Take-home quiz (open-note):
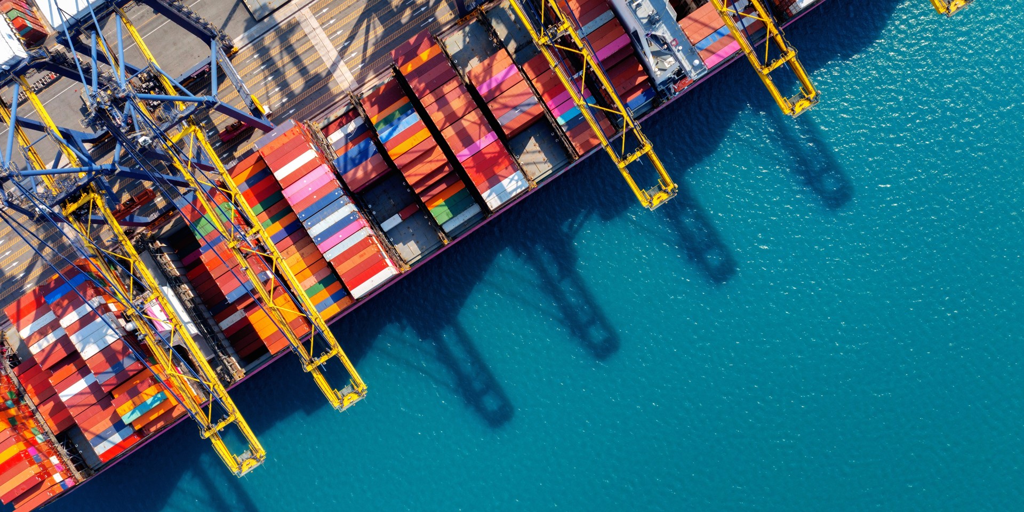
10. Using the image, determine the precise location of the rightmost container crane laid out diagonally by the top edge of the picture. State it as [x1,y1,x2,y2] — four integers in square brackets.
[712,0,824,120]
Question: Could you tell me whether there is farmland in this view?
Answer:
No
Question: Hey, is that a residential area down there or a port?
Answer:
port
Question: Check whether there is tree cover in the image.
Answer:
No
